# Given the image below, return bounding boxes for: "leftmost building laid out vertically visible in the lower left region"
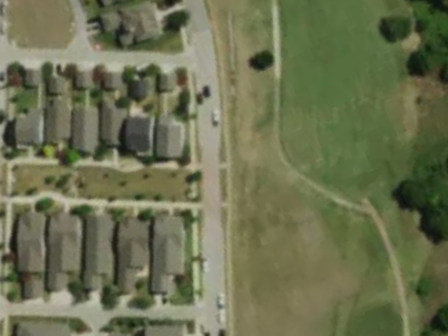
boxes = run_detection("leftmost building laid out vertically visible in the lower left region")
[19,212,46,299]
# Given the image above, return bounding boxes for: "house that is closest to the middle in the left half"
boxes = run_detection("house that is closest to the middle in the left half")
[158,117,188,159]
